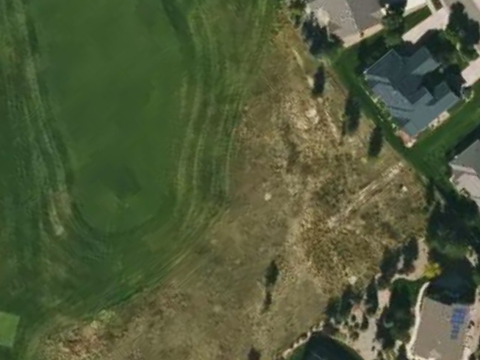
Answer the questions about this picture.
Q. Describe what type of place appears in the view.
golf course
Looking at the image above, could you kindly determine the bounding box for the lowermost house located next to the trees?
[415,297,474,360]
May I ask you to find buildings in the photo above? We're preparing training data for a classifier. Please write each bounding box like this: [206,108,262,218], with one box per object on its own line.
[415,297,474,360]
[313,0,392,47]
[449,143,480,210]
[363,48,458,137]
